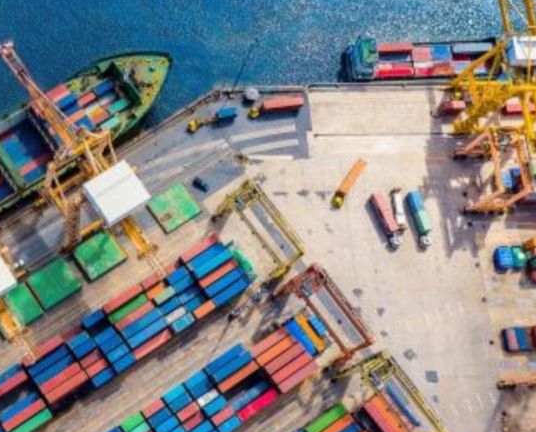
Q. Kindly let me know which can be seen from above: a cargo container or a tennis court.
cargo container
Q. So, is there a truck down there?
Yes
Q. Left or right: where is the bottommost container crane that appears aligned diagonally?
right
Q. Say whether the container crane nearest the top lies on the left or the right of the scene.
right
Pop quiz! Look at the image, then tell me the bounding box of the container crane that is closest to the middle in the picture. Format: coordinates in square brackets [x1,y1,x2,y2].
[204,179,312,288]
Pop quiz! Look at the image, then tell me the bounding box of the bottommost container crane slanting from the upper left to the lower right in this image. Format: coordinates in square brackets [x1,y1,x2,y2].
[326,352,456,432]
